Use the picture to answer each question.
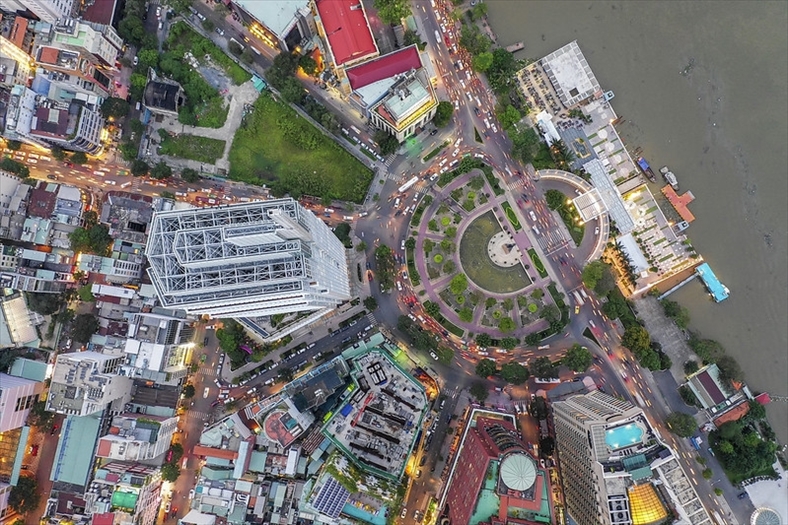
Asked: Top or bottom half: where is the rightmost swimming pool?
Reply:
bottom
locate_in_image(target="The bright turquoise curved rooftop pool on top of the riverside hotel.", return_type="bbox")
[603,420,646,451]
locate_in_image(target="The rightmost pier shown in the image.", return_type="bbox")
[693,262,730,303]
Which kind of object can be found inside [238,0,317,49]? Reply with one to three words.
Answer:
building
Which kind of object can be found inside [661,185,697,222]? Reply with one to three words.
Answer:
pier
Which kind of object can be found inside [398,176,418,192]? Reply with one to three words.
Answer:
vehicle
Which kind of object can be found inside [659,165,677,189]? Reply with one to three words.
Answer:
boat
